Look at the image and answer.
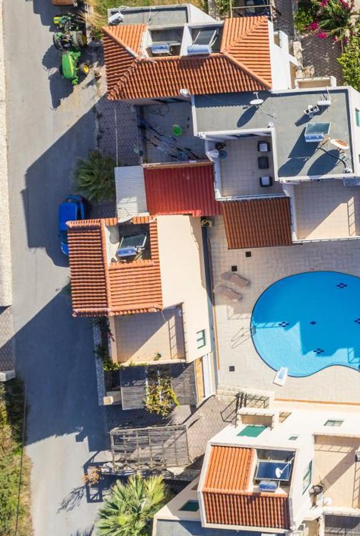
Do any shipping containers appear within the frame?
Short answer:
No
